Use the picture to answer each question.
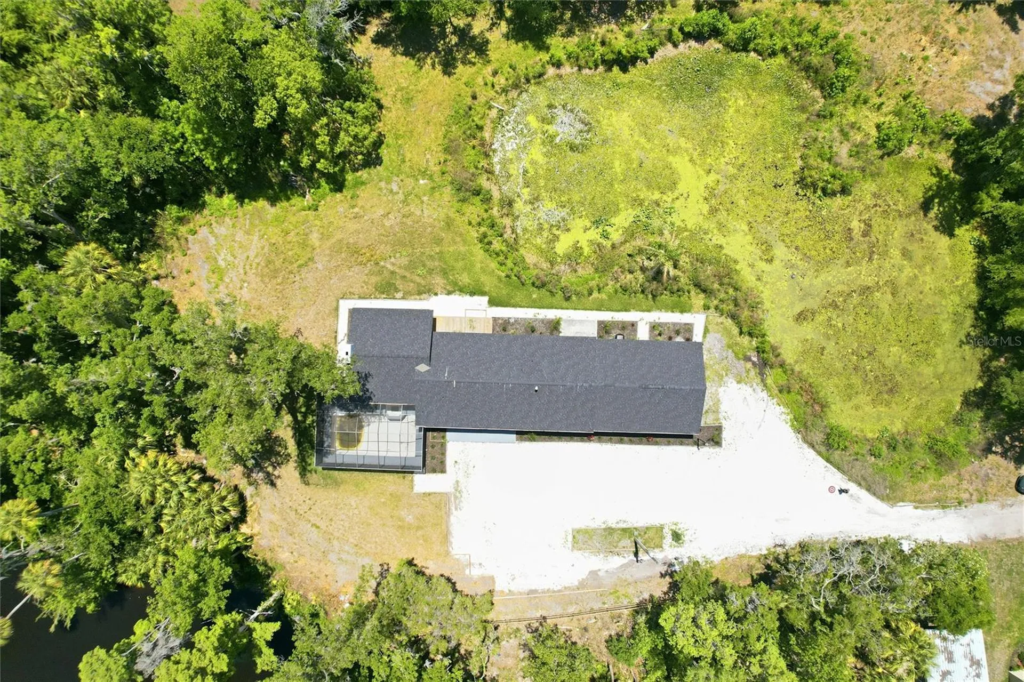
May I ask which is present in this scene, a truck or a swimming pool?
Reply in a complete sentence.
The image shows a swimming pool.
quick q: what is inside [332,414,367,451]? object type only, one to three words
swimming pool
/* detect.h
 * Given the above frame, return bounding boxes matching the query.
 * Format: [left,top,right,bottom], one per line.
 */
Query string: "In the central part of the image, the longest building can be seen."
[344,307,706,434]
